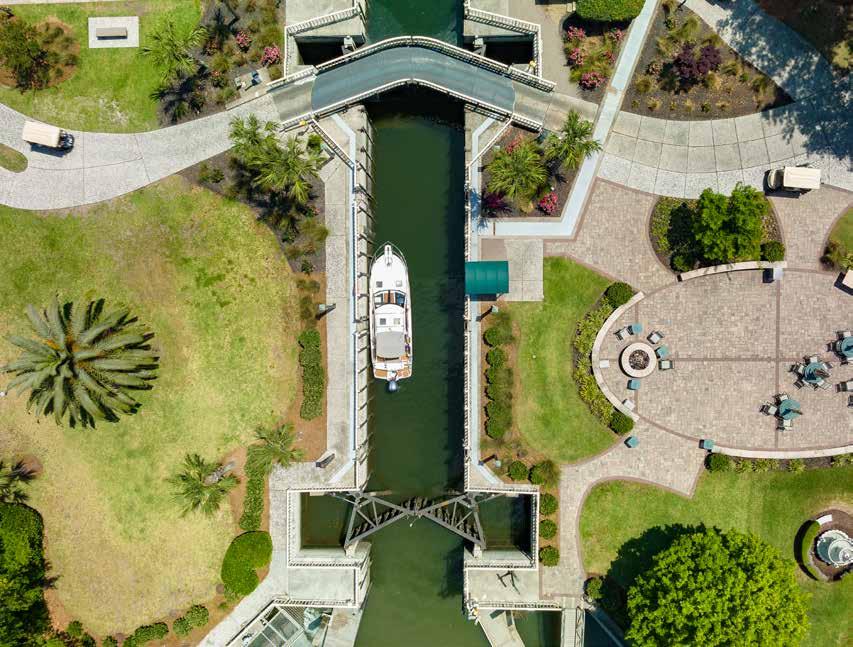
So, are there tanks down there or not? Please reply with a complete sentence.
No, there is no tank in the image.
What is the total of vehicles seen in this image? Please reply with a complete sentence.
Looking from above, you can make out 2 vehicles.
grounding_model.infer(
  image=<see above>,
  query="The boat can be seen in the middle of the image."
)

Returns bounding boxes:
[370,241,413,391]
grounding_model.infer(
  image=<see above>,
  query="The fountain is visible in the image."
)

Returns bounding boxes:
[814,529,853,566]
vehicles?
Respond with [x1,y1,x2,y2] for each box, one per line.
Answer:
[764,168,821,195]
[22,121,80,158]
